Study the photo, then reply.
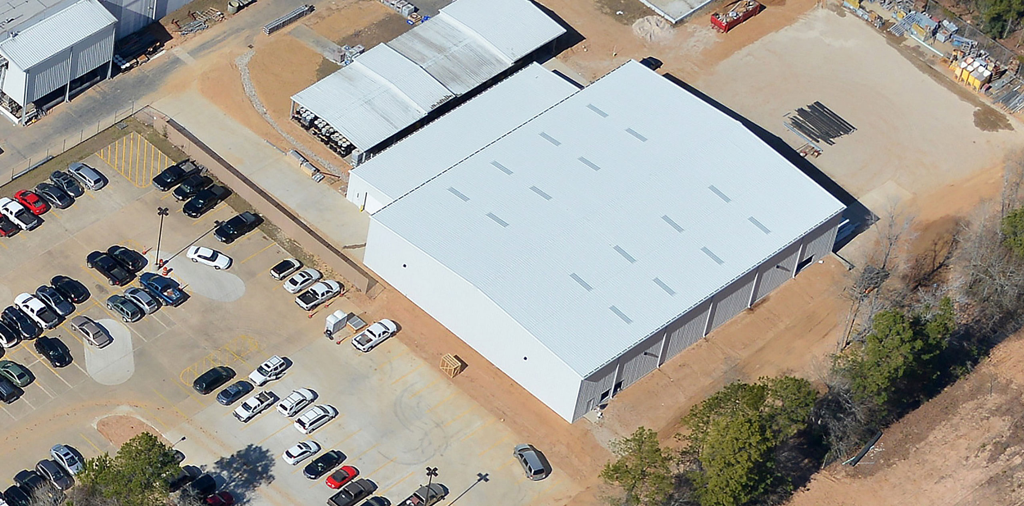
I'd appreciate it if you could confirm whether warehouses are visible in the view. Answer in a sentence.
Yes, a warehouse is visible in the scene.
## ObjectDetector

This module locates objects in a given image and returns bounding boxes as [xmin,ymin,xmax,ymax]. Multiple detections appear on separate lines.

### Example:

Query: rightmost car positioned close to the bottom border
[516,445,548,483]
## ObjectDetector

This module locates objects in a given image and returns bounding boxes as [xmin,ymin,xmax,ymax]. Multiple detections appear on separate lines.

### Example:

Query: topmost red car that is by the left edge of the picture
[12,190,50,219]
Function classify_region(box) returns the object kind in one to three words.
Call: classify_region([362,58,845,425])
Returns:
warehouse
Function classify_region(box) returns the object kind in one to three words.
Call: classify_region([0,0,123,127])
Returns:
building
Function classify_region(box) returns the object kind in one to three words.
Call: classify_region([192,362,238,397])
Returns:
car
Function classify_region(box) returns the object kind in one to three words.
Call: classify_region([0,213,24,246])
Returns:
truck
